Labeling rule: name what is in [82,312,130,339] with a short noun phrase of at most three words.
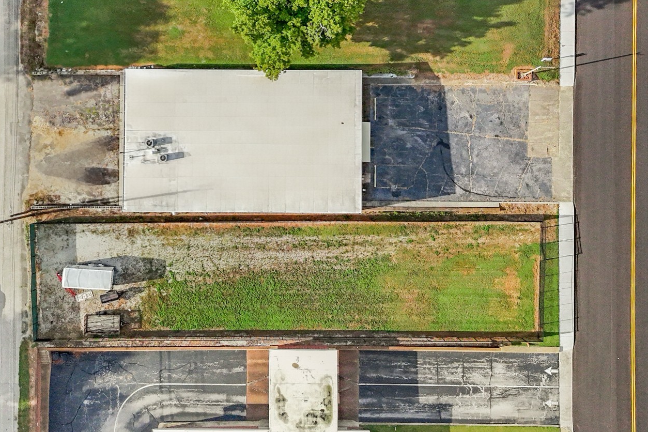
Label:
trailer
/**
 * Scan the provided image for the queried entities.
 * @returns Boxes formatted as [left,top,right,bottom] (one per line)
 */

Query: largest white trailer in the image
[58,261,115,297]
